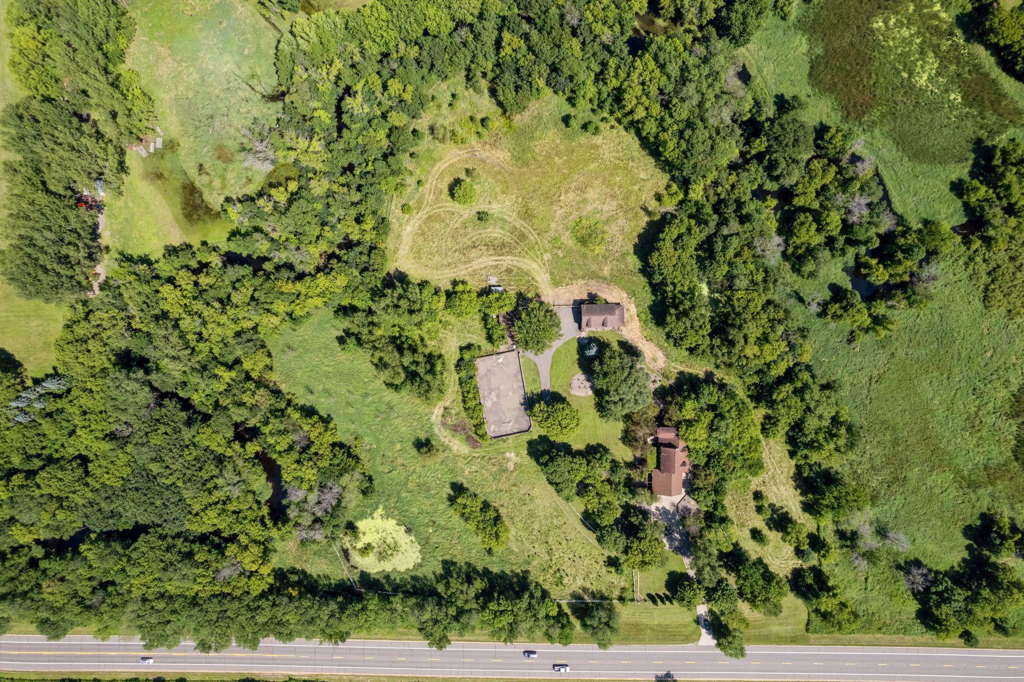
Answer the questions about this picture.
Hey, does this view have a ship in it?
No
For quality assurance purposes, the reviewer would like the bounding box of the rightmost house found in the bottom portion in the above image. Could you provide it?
[652,427,690,497]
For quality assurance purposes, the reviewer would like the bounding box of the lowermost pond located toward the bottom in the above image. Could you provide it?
[350,503,423,574]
